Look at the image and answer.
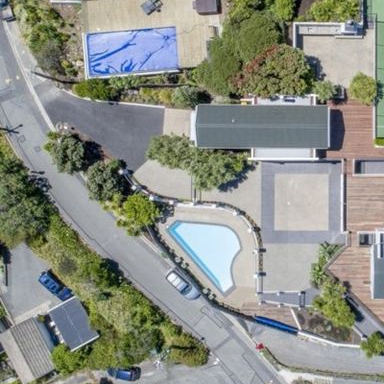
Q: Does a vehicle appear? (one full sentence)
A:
Yes, a vehicle can be made out from above.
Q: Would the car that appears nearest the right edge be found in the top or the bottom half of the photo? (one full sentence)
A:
Seen from above, the car that appears nearest the right edge lies in the bottom half of the view.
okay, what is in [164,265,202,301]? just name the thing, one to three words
car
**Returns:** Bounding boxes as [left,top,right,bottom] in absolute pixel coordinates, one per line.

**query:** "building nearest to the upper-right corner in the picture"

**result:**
[195,92,330,160]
